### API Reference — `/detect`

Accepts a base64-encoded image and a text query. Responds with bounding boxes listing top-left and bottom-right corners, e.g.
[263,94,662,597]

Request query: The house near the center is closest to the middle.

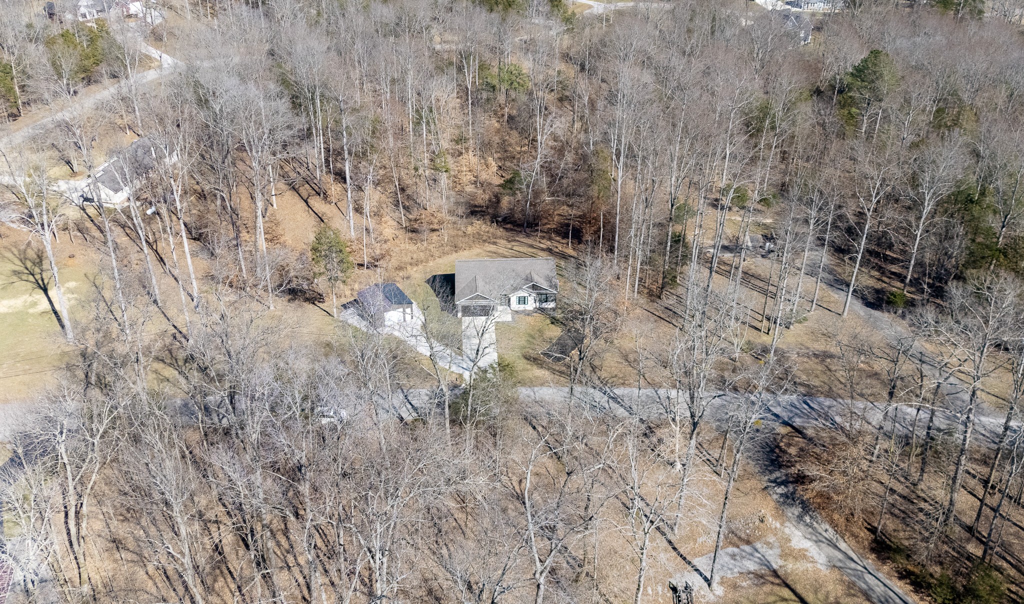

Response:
[457,258,562,318]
